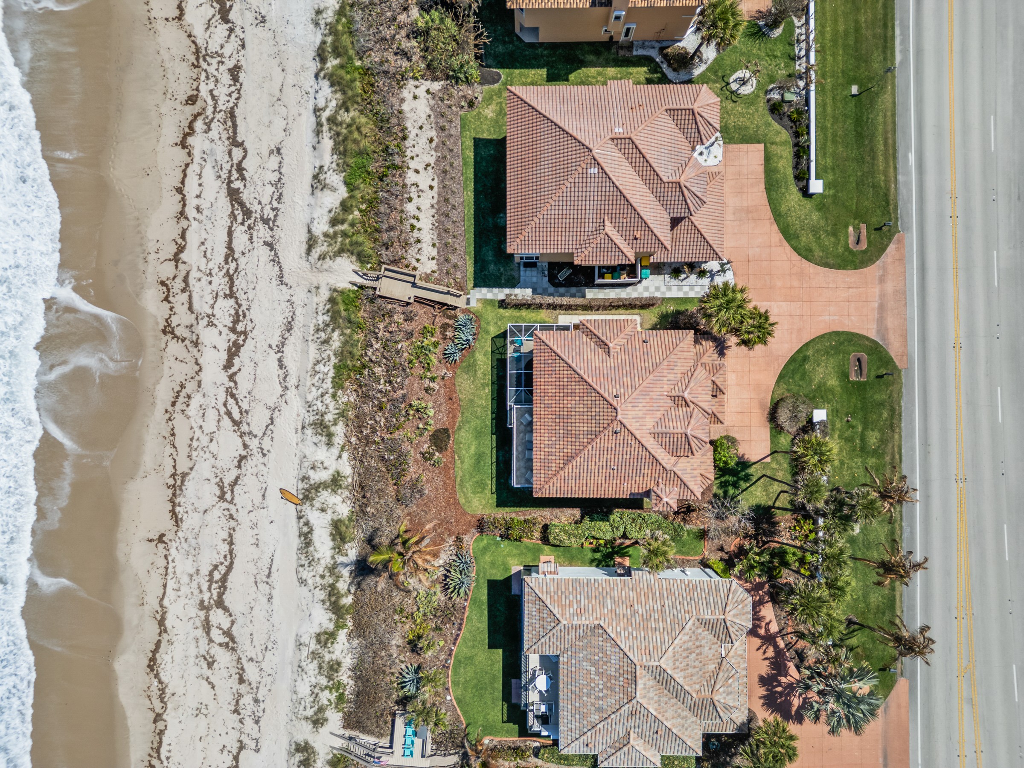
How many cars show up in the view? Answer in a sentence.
The photo contains no cars.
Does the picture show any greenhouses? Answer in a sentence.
No, I can see no greenhouse in this picture.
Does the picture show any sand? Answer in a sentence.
Yes, there's sand in this view.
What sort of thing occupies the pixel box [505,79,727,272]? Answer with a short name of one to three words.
house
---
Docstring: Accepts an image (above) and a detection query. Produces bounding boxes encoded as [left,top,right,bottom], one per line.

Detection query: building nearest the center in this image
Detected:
[532,317,728,513]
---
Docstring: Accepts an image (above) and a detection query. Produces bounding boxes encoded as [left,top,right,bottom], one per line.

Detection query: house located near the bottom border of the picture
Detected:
[522,560,754,768]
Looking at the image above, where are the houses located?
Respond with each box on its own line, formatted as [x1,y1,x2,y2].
[522,560,754,768]
[504,0,714,55]
[532,317,728,513]
[505,79,727,272]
